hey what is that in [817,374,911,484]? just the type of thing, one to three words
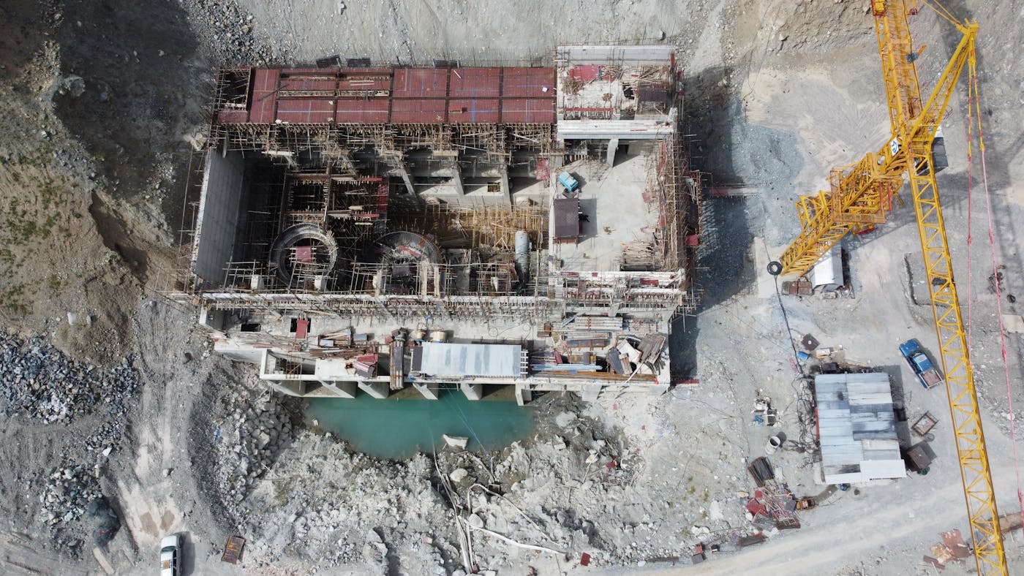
shed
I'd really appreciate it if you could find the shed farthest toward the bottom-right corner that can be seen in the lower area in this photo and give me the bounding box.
[908,447,939,478]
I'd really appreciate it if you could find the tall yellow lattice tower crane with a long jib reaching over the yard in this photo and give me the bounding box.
[774,0,1024,576]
